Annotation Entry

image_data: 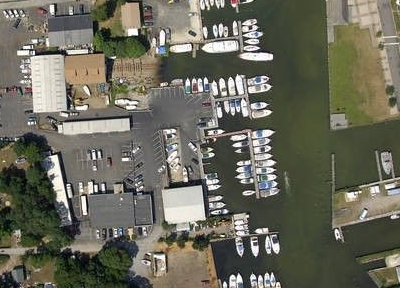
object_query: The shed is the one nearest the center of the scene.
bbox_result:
[161,185,205,223]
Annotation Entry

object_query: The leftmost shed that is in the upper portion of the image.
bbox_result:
[32,55,66,112]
